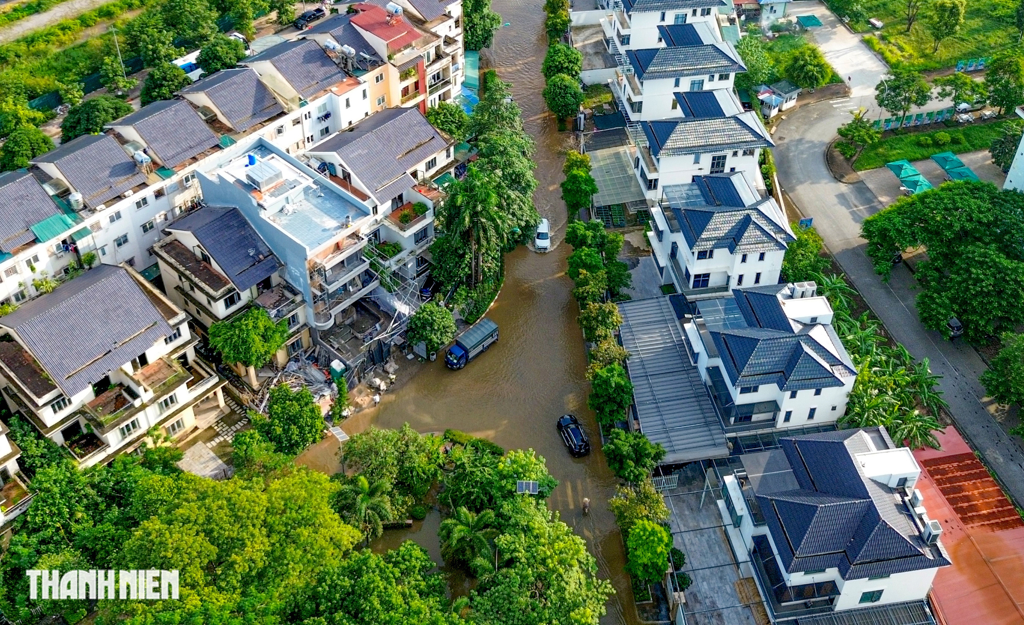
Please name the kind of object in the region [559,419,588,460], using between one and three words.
car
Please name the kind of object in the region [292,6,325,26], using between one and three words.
vehicle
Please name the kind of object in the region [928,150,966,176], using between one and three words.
umbrella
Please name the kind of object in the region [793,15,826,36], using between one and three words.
umbrella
